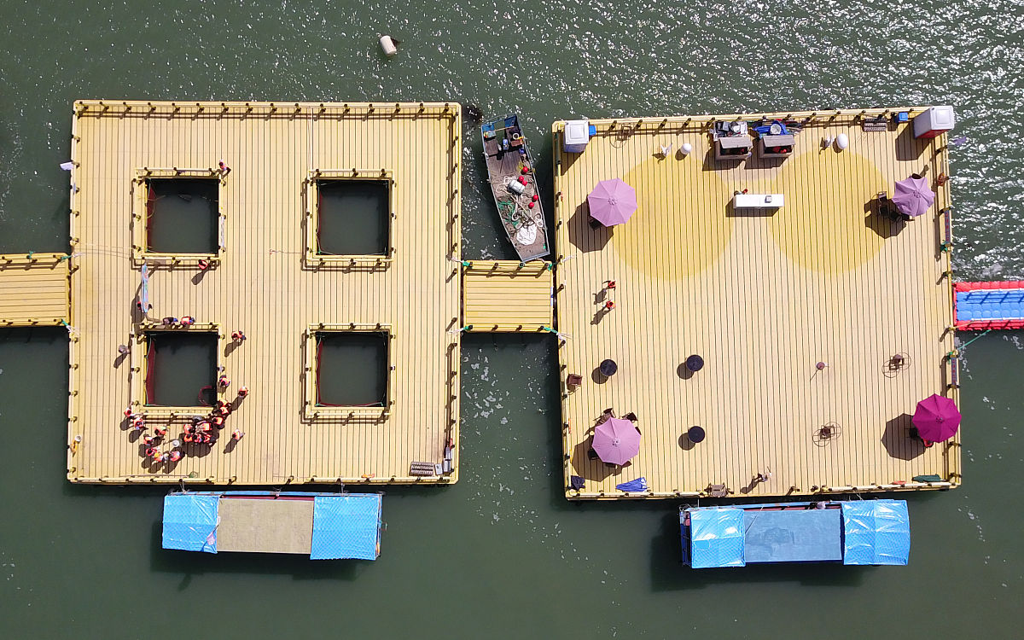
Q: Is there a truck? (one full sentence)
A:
No, the photo shows no truck.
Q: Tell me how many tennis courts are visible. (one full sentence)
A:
There are no tennis courts in this view.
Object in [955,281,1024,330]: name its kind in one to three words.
pier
